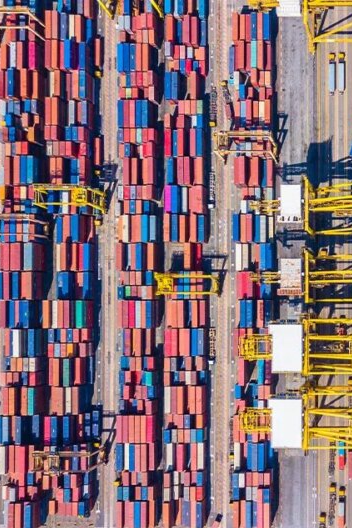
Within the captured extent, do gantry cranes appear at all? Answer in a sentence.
Yes, I can see a gantry crane in this picture.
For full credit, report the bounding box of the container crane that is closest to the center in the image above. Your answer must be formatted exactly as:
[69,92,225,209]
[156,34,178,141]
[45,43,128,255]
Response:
[155,273,221,298]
